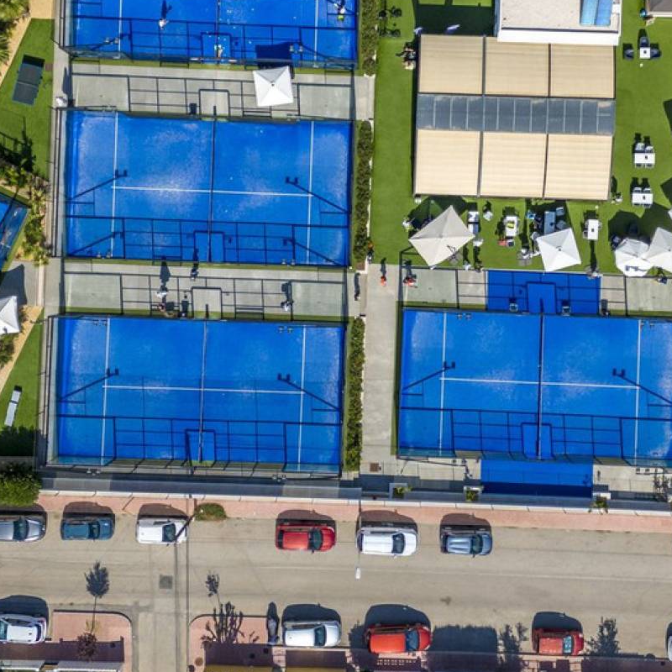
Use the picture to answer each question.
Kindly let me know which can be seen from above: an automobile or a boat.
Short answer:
automobile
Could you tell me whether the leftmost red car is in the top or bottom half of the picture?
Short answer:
bottom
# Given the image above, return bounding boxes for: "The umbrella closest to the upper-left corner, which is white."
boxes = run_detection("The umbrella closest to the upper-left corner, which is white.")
[252,65,294,107]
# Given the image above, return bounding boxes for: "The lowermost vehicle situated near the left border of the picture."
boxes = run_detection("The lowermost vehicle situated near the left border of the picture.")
[0,613,47,647]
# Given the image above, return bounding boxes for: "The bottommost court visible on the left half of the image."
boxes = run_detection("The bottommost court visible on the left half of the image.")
[40,303,355,481]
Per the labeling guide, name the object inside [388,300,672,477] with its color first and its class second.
blue sports court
